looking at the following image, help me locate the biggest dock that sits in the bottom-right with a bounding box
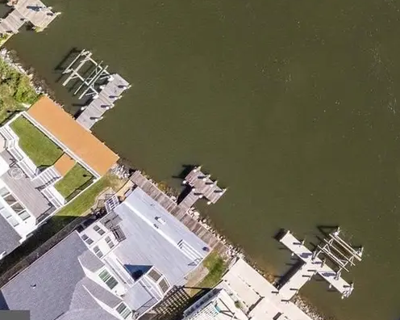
[277,231,355,307]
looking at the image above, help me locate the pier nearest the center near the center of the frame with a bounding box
[178,165,230,212]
